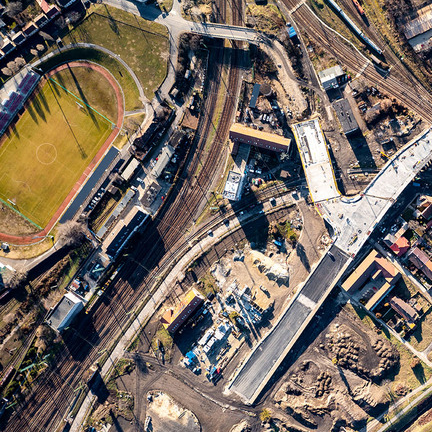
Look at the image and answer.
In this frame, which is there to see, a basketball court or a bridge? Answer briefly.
bridge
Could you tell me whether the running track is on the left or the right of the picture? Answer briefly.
left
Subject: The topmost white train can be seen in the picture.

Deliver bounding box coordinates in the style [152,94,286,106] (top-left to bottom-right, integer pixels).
[329,0,379,51]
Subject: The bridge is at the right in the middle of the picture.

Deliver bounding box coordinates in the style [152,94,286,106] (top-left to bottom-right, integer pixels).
[229,118,432,402]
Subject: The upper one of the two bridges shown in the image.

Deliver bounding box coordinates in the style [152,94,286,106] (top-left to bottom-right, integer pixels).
[173,17,275,48]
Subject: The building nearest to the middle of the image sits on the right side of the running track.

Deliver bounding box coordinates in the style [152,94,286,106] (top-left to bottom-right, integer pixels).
[224,171,246,201]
